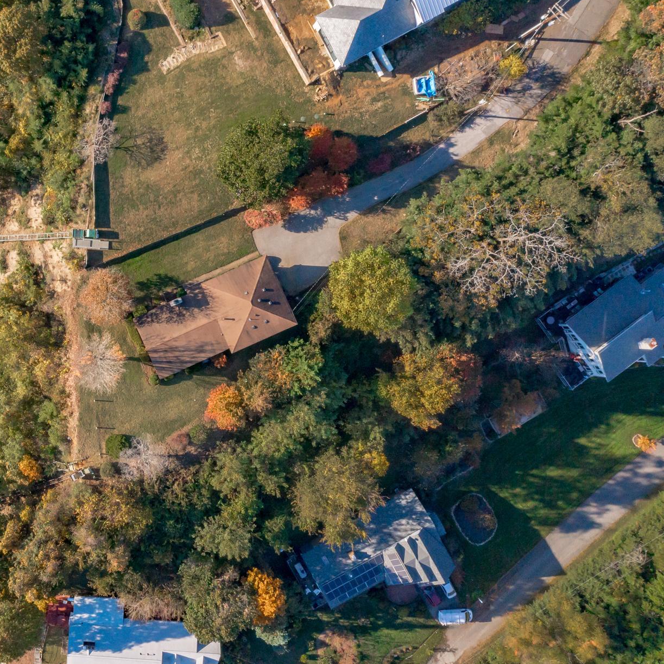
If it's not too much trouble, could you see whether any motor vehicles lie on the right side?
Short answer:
Yes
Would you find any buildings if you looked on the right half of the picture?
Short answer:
Yes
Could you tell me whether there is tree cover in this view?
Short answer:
Yes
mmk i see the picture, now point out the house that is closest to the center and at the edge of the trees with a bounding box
[135,255,298,380]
